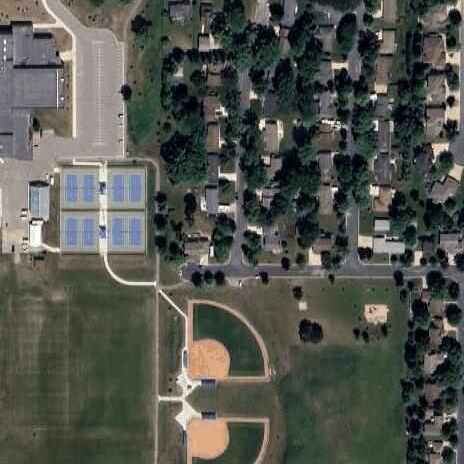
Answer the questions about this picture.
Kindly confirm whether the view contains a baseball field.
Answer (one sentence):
Yes, there is a baseball field in the image.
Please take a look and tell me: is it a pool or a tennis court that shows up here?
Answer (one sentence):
The one in the frame is a tennis court.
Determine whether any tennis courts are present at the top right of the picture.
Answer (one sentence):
No, no tennis court is visible at the top right of the picture.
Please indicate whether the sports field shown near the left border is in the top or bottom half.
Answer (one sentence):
Seen from above, the sports field shown near the left border lies in the bottom half of the view.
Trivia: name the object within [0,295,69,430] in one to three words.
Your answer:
sports field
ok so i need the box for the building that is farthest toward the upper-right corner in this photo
[420,2,449,27]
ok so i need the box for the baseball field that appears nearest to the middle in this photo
[188,300,270,381]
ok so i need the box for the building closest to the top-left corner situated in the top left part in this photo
[0,22,63,162]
